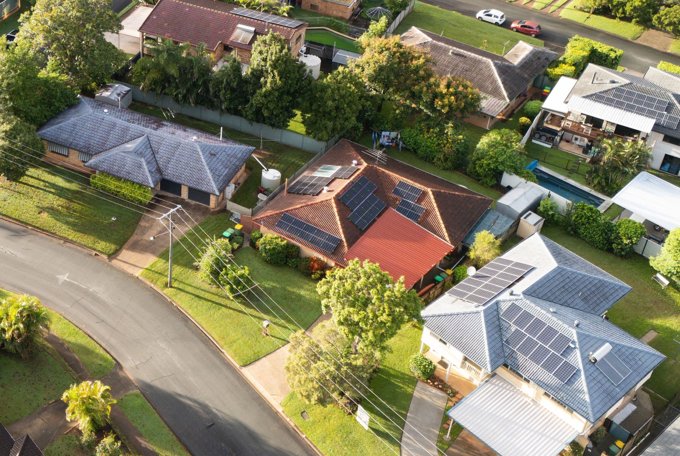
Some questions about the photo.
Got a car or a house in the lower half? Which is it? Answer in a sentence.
You can see a house in the lower half.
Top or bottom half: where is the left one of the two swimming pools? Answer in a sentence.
Seen from above, the left one of the two swimming pools lies in the top half of the view.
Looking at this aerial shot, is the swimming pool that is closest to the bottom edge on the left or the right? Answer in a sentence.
You can find the swimming pool that is closest to the bottom edge on the right side of the picture.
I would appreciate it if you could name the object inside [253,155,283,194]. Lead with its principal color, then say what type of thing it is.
white water tank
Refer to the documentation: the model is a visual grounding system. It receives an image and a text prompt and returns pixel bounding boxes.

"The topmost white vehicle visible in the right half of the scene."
[475,9,508,25]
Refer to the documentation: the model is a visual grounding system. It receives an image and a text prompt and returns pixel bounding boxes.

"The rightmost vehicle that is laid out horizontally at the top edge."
[509,21,544,37]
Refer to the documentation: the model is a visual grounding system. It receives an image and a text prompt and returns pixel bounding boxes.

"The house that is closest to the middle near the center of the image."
[243,139,496,271]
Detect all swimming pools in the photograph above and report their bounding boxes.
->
[308,29,351,54]
[528,165,601,204]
